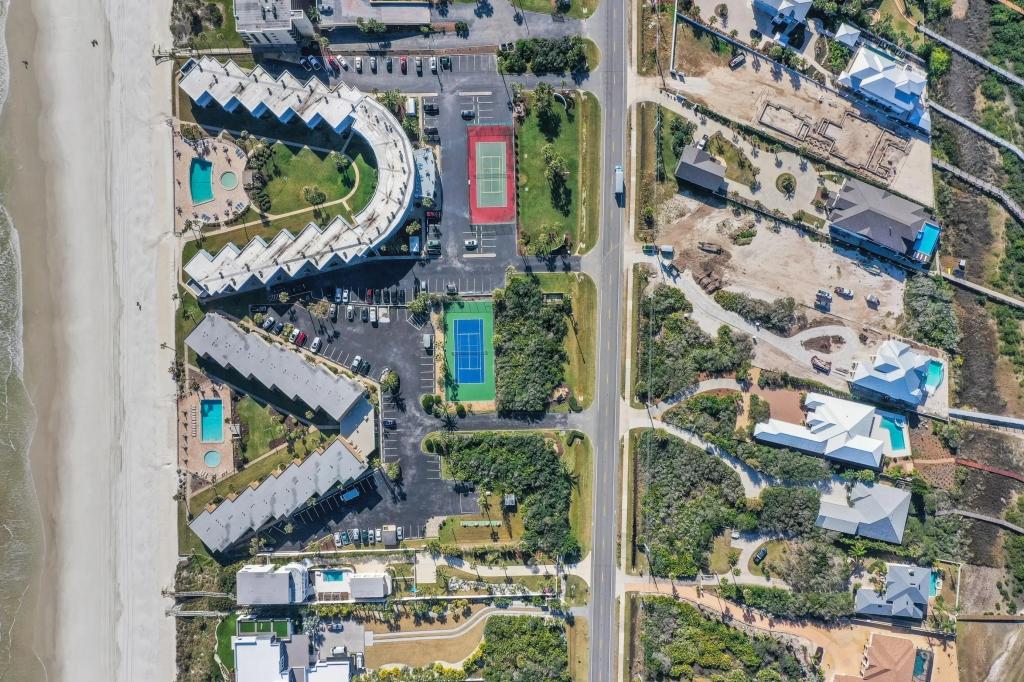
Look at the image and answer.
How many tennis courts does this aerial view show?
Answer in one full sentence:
The picture shows 2 tennis courts.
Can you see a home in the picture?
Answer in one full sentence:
Yes, the image includes a home.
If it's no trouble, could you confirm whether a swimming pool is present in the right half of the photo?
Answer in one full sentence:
Yes, in the right half of the photo there is a swimming pool.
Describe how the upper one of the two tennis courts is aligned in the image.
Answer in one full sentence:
From this overhead view, the upper one of the two tennis courts appears to run up and down.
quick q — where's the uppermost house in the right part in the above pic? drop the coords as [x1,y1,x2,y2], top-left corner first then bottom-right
[750,0,812,47]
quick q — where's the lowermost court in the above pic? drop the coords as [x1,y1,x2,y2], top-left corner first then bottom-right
[443,301,495,402]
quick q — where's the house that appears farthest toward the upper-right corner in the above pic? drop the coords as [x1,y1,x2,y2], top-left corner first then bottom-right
[836,47,927,117]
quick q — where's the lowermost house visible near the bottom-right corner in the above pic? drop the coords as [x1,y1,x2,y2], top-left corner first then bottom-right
[829,627,914,682]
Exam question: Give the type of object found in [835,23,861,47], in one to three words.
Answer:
gazebo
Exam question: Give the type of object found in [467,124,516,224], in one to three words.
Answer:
tennis court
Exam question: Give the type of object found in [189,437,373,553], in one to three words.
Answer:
building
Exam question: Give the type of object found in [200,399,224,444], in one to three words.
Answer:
swimming pool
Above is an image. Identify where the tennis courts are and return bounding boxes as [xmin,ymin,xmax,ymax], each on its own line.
[443,301,495,402]
[467,124,516,224]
